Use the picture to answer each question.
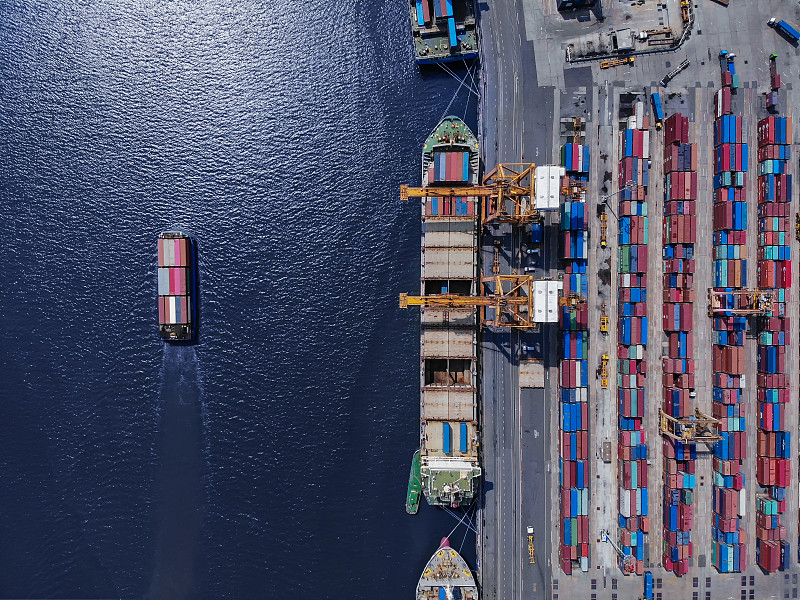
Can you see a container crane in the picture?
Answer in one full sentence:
Yes, a container crane is visible in the scene.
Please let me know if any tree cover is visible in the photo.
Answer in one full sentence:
No, there's no tree cover in this view.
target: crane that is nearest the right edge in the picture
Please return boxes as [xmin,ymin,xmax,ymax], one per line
[710,288,777,316]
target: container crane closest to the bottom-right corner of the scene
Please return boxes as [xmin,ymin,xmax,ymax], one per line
[662,409,726,442]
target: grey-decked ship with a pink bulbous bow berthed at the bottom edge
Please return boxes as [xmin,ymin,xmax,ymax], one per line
[416,535,479,600]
